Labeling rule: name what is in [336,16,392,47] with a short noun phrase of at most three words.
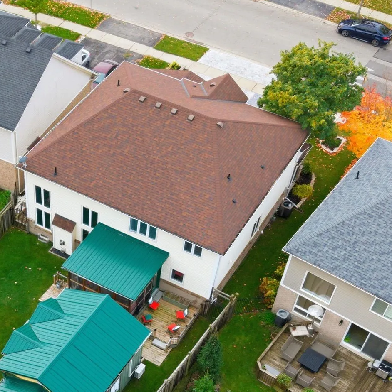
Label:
car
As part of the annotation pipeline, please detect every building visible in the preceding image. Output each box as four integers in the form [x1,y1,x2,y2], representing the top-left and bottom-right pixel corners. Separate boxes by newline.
[0,287,152,392]
[14,63,311,304]
[274,143,392,360]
